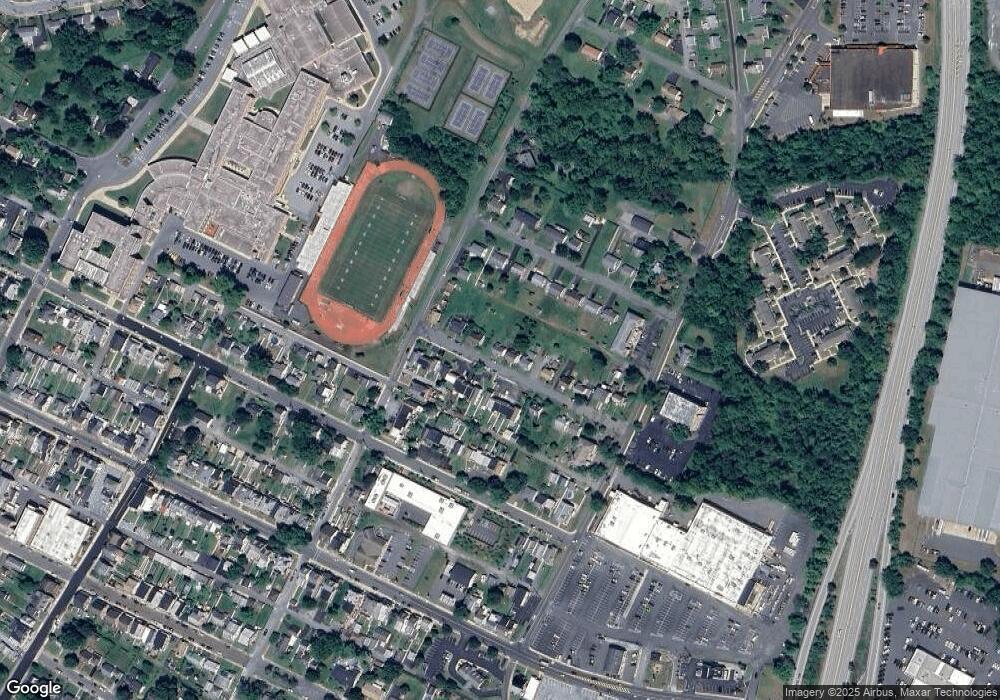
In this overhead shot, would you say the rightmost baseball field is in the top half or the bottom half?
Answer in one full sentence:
The rightmost baseball field sits in the top half of the picture.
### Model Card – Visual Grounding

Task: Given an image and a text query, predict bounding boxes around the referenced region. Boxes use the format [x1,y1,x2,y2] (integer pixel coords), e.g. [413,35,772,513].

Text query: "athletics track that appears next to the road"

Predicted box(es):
[300,159,444,345]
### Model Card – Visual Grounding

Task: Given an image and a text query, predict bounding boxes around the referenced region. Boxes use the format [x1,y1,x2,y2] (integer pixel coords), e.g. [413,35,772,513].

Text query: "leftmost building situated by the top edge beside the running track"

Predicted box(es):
[131,0,377,263]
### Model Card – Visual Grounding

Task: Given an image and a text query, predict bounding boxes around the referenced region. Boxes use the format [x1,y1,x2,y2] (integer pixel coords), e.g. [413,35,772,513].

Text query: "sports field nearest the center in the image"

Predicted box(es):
[320,171,435,321]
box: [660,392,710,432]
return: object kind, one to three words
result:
building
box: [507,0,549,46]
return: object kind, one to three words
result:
baseball field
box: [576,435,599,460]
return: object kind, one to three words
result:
house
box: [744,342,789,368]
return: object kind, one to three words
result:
building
